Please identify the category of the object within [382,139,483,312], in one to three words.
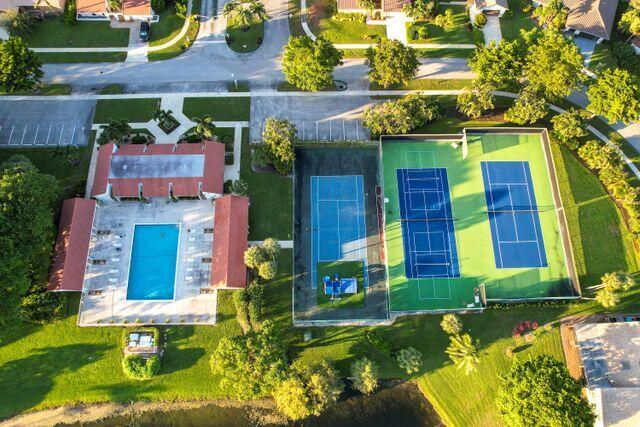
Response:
tennis court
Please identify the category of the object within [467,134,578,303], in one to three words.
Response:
tennis court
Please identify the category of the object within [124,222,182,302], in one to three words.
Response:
swimming pool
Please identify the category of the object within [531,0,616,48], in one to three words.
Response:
house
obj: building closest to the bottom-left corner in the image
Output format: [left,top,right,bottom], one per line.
[49,198,99,291]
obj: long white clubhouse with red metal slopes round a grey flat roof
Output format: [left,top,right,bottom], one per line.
[91,141,225,203]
